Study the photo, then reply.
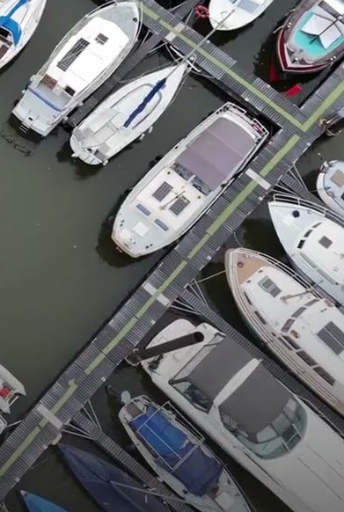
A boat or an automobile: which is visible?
boat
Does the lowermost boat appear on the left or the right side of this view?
left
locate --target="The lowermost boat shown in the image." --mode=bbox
[20,489,66,512]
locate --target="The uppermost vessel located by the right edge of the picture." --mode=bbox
[271,0,344,78]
